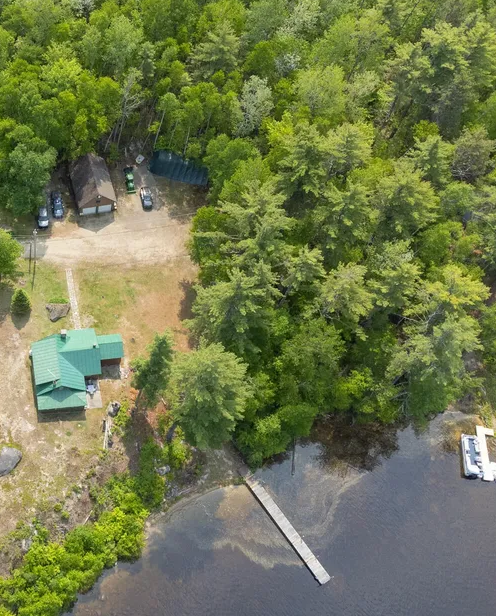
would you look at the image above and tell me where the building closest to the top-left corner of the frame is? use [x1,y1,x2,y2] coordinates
[67,155,117,217]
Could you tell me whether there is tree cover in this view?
Yes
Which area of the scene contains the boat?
bottom right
